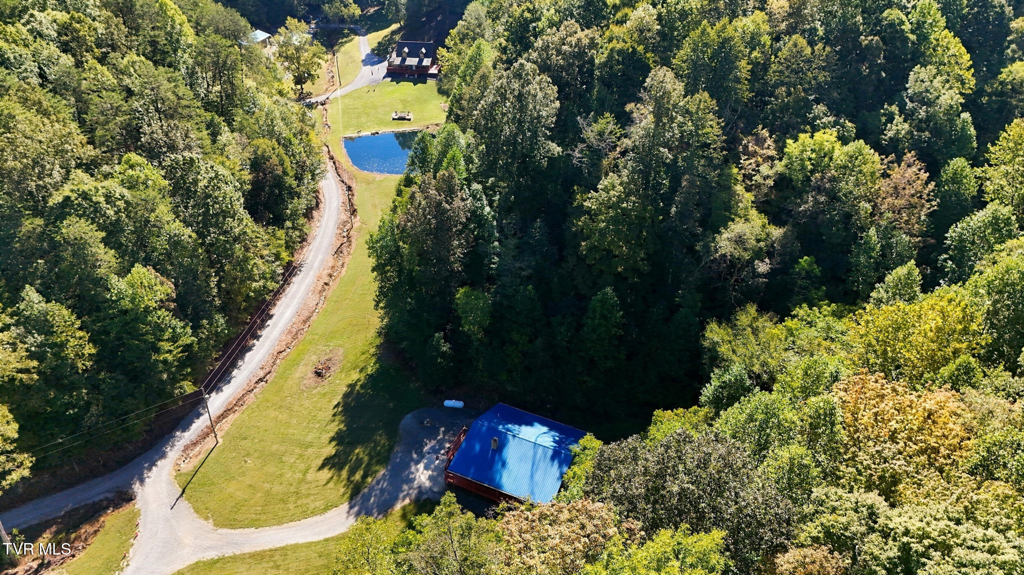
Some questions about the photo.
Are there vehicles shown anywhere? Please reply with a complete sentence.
No, the scene contains no vehicle.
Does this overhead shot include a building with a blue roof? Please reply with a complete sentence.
Yes, a building with a blue roof can be made out from above.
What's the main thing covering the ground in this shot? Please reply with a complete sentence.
Most of the picture is covered by trees.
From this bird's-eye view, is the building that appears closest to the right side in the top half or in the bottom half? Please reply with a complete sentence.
The building that appears closest to the right side sits in the bottom half of the picture.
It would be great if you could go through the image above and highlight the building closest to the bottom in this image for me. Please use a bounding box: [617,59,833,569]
[434,403,589,531]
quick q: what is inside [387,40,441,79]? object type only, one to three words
house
